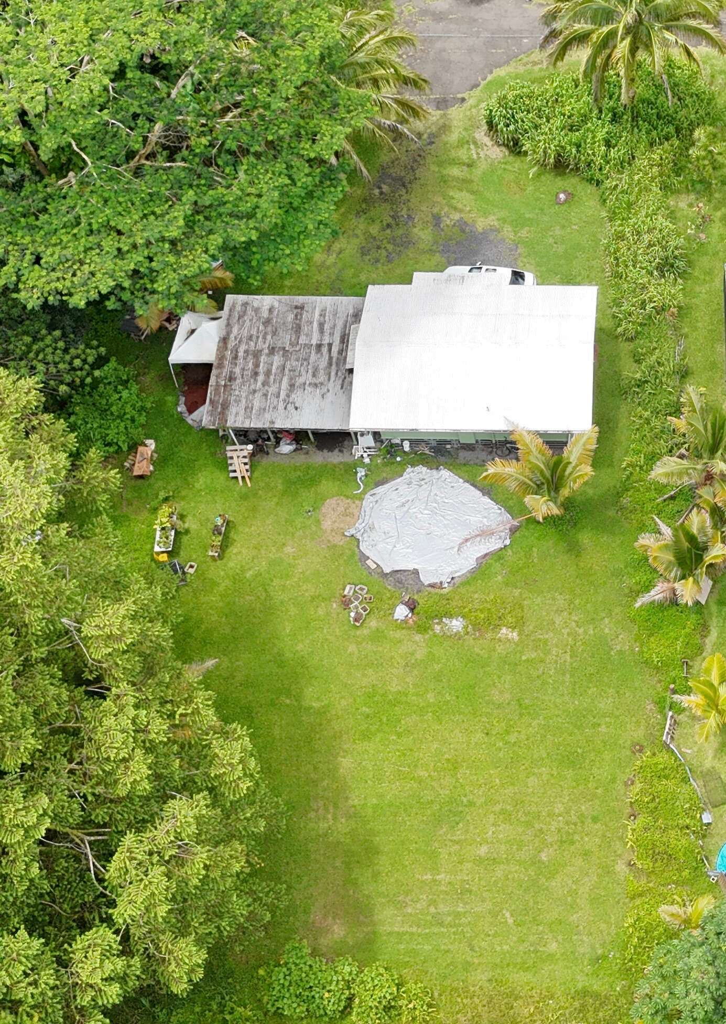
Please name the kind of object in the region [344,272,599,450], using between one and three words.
house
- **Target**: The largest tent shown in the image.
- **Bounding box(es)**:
[168,310,222,387]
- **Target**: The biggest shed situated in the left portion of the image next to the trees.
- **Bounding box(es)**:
[202,294,365,443]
